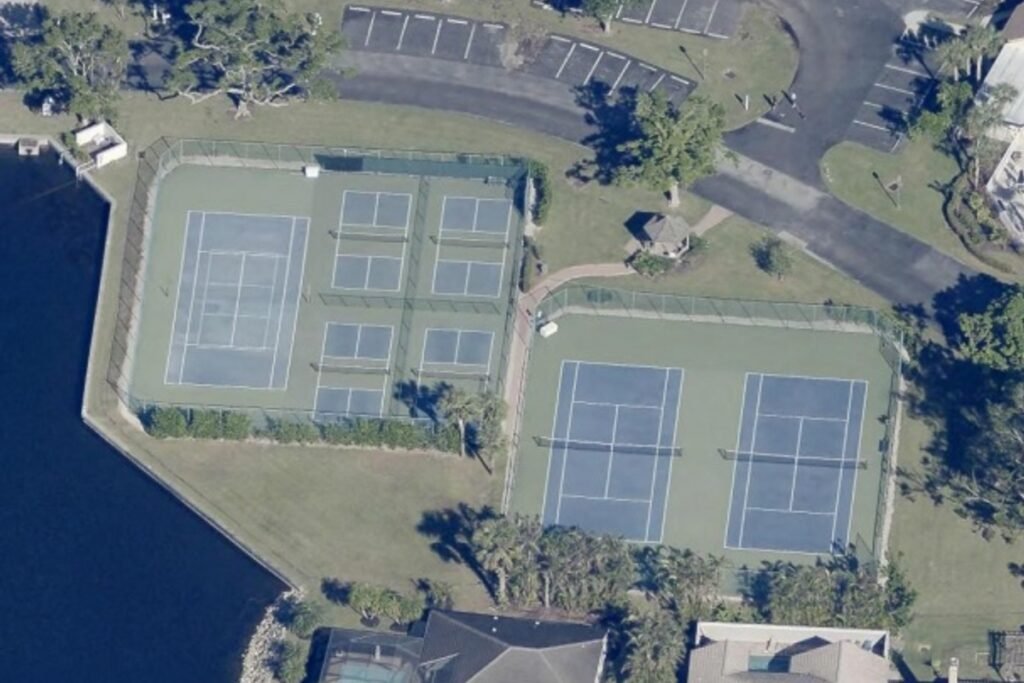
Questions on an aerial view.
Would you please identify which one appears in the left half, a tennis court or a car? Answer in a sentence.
What appears in the left half is a tennis court.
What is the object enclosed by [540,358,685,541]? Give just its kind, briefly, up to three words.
tennis court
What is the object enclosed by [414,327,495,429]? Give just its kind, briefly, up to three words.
sports court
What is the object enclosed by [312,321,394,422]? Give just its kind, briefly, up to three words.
sports court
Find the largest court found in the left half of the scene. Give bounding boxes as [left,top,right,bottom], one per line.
[163,210,310,390]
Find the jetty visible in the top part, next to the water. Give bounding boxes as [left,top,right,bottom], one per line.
[19,137,40,153]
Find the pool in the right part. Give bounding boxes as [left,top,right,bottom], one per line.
[750,656,789,674]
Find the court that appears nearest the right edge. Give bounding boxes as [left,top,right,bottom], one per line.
[724,372,869,555]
